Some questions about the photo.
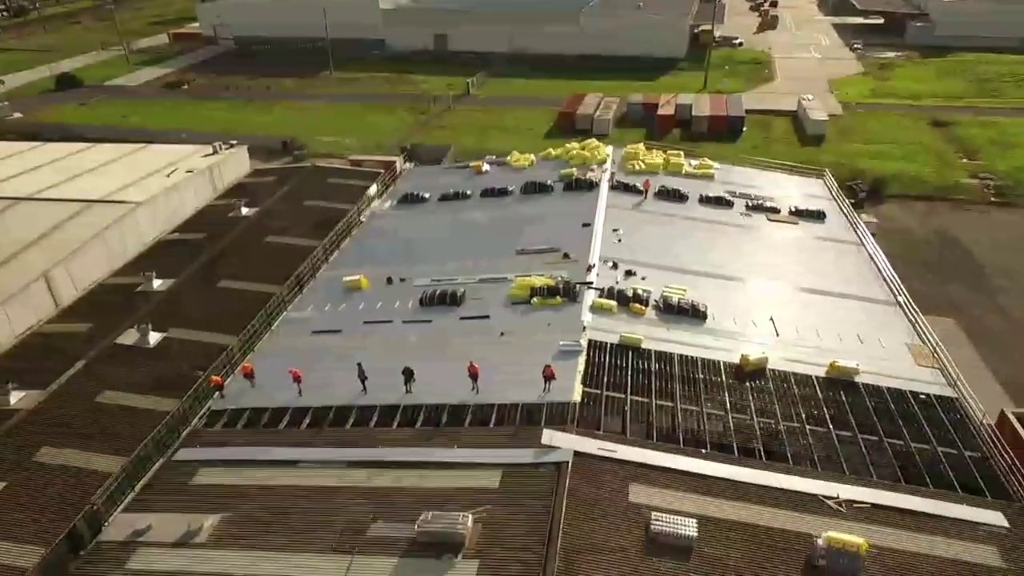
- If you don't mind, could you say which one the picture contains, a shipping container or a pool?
shipping container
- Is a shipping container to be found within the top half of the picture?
Yes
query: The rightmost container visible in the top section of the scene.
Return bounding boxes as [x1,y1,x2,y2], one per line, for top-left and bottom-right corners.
[792,94,829,137]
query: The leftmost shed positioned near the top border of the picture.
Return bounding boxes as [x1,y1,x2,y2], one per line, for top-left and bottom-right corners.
[170,24,212,47]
